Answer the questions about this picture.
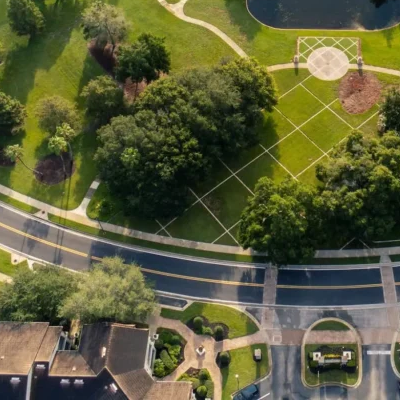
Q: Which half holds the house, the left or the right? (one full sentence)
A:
The house is on the left side of the image.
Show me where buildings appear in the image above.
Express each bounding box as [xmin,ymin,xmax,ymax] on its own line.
[0,322,194,400]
